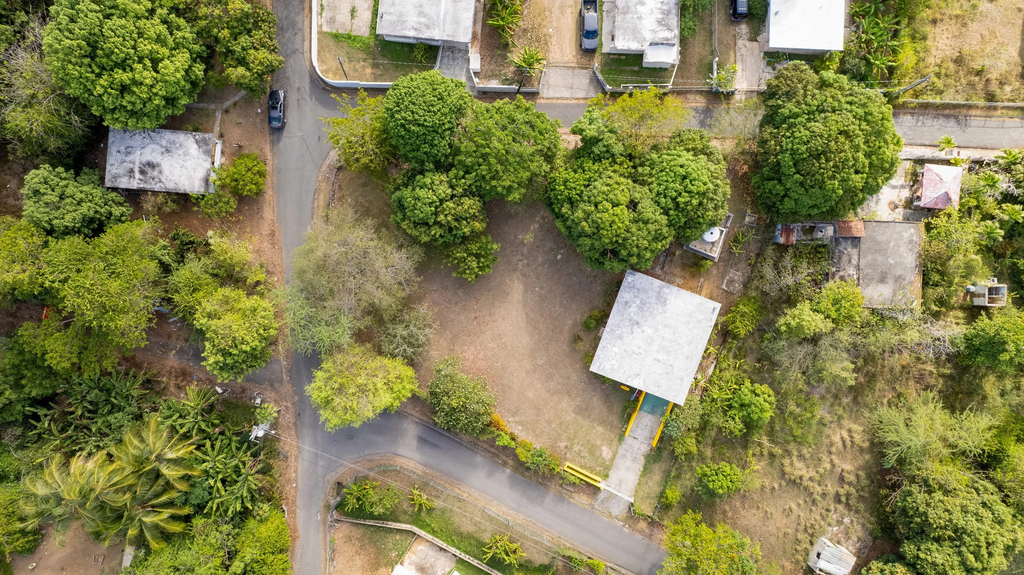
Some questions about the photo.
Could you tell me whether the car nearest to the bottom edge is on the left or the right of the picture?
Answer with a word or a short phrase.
left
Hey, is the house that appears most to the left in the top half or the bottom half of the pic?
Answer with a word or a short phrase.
top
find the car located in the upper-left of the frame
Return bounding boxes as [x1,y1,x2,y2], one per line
[265,88,285,128]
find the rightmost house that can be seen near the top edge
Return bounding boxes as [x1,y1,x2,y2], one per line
[760,0,844,62]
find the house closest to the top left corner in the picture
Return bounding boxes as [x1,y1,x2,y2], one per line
[106,128,223,204]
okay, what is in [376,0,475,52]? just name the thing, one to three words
house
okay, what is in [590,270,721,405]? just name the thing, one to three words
house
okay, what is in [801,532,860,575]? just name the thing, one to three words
shed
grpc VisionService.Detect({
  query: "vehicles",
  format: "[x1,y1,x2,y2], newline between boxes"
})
[579,0,601,49]
[730,0,749,22]
[265,88,285,128]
